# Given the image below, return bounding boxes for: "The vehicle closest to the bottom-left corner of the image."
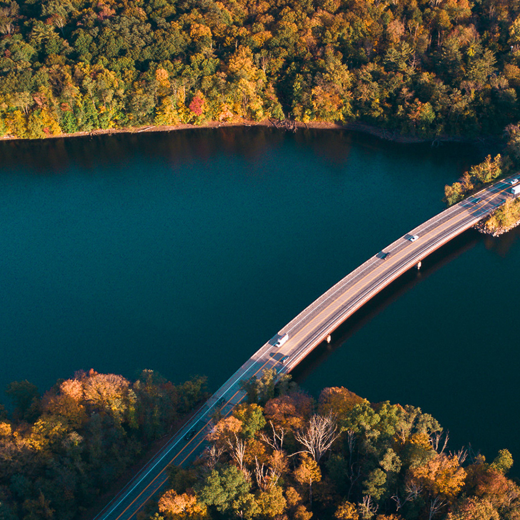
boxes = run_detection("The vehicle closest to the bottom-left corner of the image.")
[184,426,198,440]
